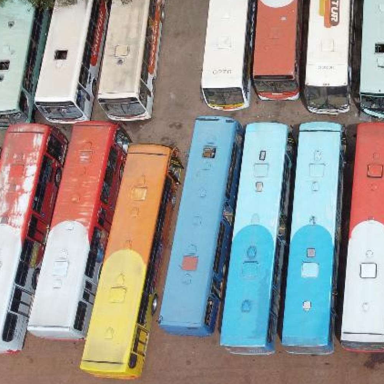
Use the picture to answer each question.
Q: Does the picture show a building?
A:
No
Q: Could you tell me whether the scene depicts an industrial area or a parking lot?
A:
parking lot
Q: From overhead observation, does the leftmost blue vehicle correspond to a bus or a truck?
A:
bus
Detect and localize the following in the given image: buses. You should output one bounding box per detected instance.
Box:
[83,145,183,382]
[29,123,129,341]
[283,124,348,356]
[159,119,245,339]
[357,0,384,119]
[0,126,67,355]
[220,124,294,357]
[35,0,112,124]
[202,0,257,111]
[99,0,166,119]
[304,0,353,109]
[341,124,384,353]
[252,0,303,99]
